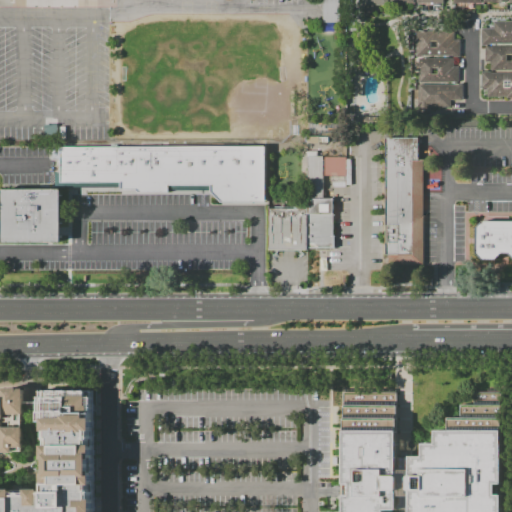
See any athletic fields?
Yes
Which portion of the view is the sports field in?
top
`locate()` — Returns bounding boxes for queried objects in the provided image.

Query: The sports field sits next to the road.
[124,21,292,136]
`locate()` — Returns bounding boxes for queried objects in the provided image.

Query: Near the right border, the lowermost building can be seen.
[404,392,501,512]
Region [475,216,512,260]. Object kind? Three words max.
building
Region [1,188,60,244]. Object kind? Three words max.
building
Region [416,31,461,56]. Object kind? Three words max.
house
